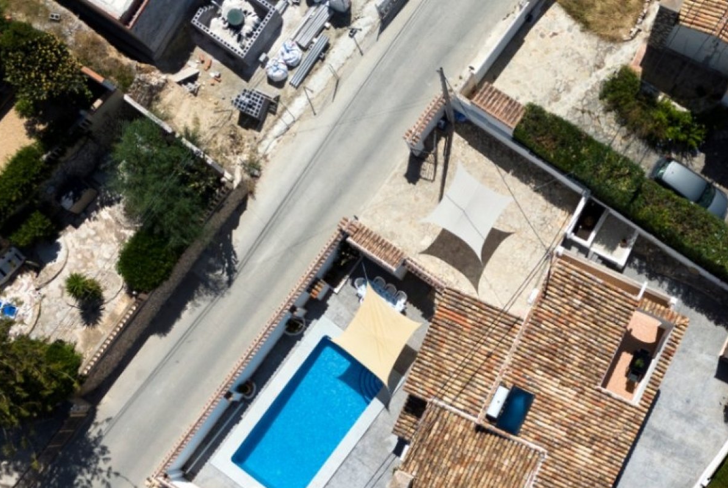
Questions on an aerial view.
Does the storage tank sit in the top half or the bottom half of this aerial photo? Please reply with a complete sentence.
It is in the top half that the storage tank appears.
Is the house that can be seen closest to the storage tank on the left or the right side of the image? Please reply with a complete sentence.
The house that can be seen closest to the storage tank sits on the left side.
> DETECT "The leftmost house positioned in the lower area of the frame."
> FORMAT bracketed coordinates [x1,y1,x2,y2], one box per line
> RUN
[389,246,689,488]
